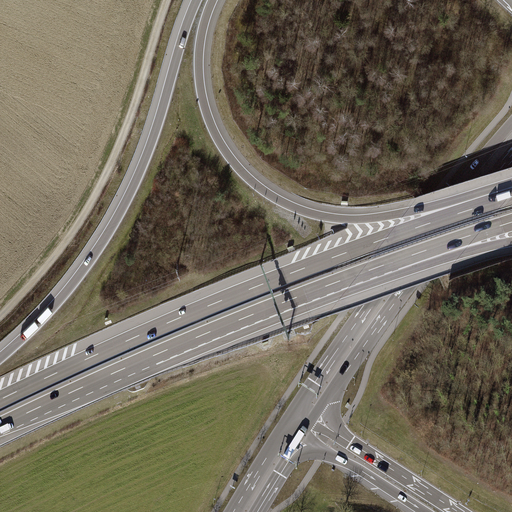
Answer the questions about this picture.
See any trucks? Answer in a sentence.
Yes, looking at the shot, I can spot a truck.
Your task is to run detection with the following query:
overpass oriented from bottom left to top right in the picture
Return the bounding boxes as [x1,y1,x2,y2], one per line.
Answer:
[323,168,512,318]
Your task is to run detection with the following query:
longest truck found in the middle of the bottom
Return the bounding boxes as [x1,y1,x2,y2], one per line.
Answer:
[284,424,308,459]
